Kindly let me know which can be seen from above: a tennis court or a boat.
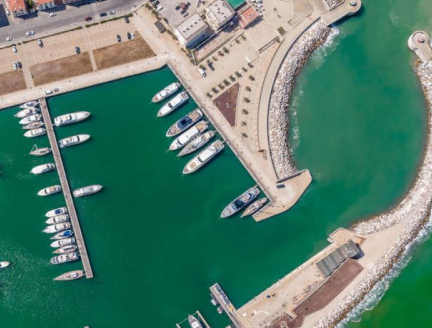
boat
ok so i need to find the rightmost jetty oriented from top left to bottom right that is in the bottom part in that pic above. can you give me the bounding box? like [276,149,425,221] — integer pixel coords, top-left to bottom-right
[209,283,238,328]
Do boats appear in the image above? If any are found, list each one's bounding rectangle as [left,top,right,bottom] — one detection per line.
[19,113,42,123]
[50,230,73,240]
[170,120,210,150]
[50,237,81,247]
[156,91,190,116]
[188,315,202,328]
[50,251,85,262]
[37,184,66,195]
[29,147,50,155]
[52,245,77,253]
[13,107,37,116]
[21,119,45,129]
[19,101,38,109]
[177,130,216,156]
[221,187,262,217]
[30,162,60,173]
[45,207,68,217]
[53,134,91,148]
[67,185,103,198]
[152,80,181,102]
[53,270,84,280]
[45,214,75,223]
[23,126,52,137]
[42,222,77,233]
[240,198,267,218]
[166,108,204,136]
[183,140,227,173]
[51,112,91,126]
